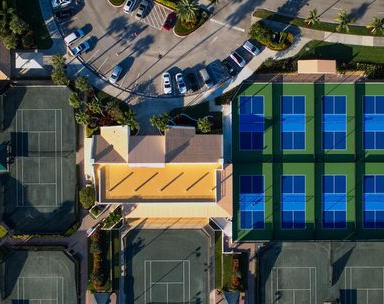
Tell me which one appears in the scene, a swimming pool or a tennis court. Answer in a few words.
tennis court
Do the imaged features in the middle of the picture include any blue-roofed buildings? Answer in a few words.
No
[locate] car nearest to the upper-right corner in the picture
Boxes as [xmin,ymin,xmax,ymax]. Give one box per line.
[242,39,260,58]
